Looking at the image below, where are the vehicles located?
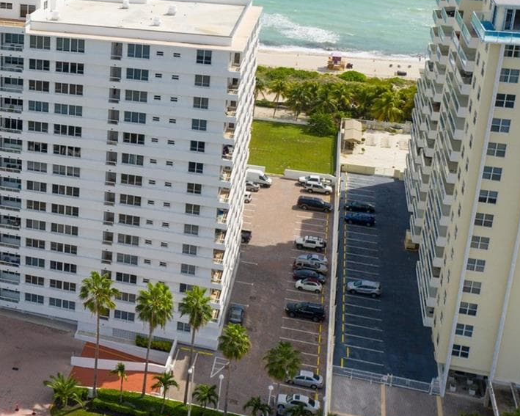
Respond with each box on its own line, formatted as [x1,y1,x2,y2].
[345,212,377,228]
[292,268,328,282]
[347,280,384,298]
[285,370,324,391]
[228,303,245,324]
[346,201,376,214]
[294,235,326,253]
[304,183,333,197]
[287,303,325,323]
[294,259,329,274]
[241,229,255,244]
[244,191,258,205]
[245,181,266,194]
[300,198,330,213]
[296,277,323,293]
[298,175,331,188]
[246,168,273,188]
[277,392,321,415]
[296,251,329,266]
